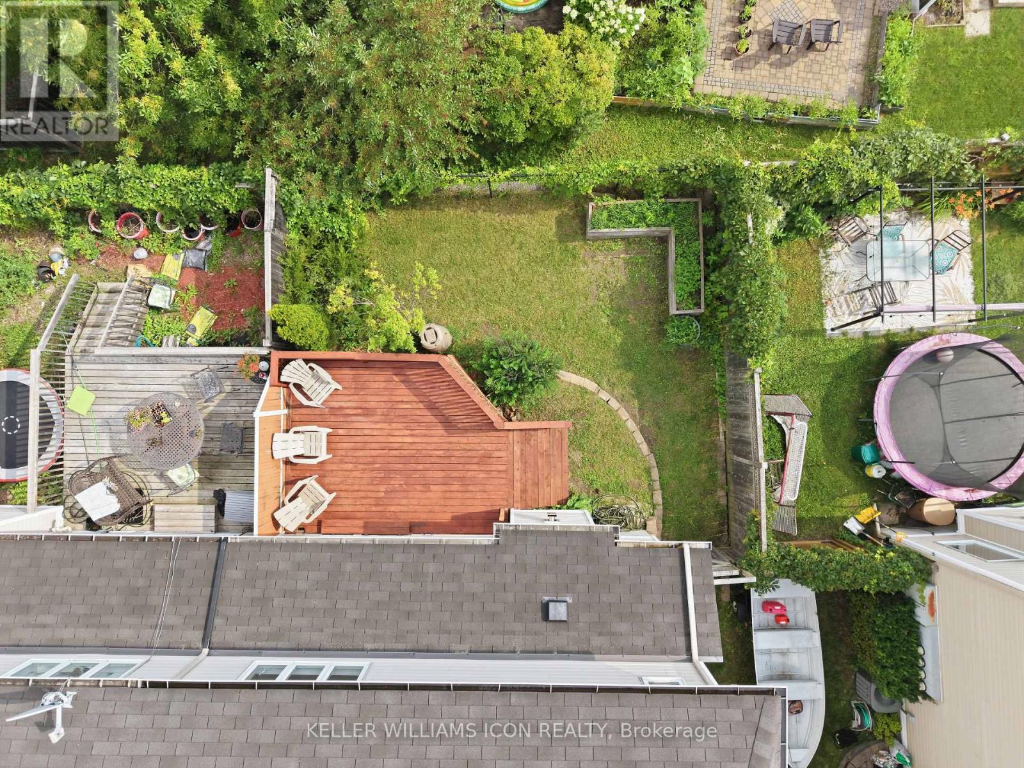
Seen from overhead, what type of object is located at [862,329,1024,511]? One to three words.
trampoline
